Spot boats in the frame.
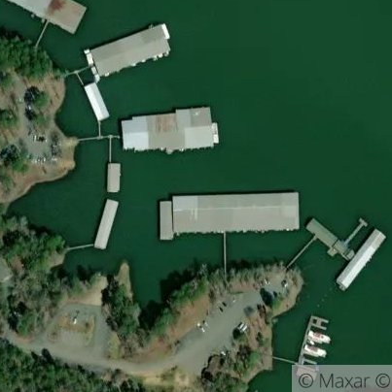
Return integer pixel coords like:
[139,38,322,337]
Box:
[309,333,329,342]
[304,346,326,356]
